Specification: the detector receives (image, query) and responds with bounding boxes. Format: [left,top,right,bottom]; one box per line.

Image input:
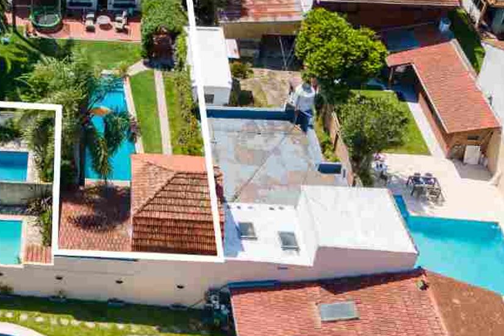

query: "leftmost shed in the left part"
[24,243,52,263]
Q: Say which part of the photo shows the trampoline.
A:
top left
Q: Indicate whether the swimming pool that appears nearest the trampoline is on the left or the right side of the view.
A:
left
